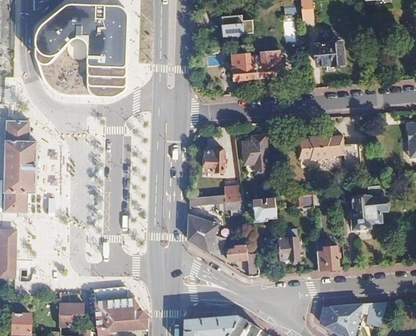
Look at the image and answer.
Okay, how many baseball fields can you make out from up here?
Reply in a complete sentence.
I count no baseball fields.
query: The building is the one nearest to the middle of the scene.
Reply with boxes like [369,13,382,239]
[202,148,227,178]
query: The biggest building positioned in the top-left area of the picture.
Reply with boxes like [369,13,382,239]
[34,5,126,95]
